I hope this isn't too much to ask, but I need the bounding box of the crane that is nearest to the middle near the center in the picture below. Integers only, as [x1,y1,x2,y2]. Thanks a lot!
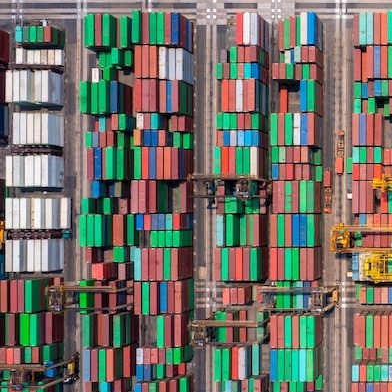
[186,173,278,204]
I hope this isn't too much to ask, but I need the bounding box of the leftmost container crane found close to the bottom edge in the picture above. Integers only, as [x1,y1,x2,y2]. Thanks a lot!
[0,350,83,392]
